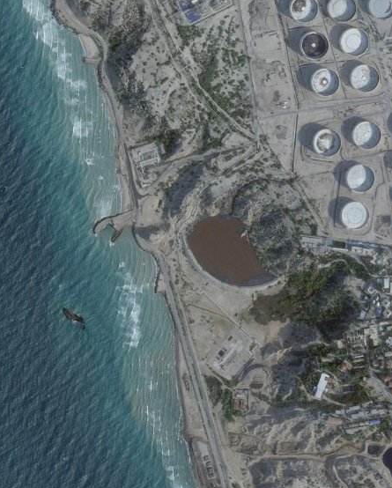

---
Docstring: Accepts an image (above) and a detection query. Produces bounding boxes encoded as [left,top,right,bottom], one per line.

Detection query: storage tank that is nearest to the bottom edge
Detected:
[340,201,368,233]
